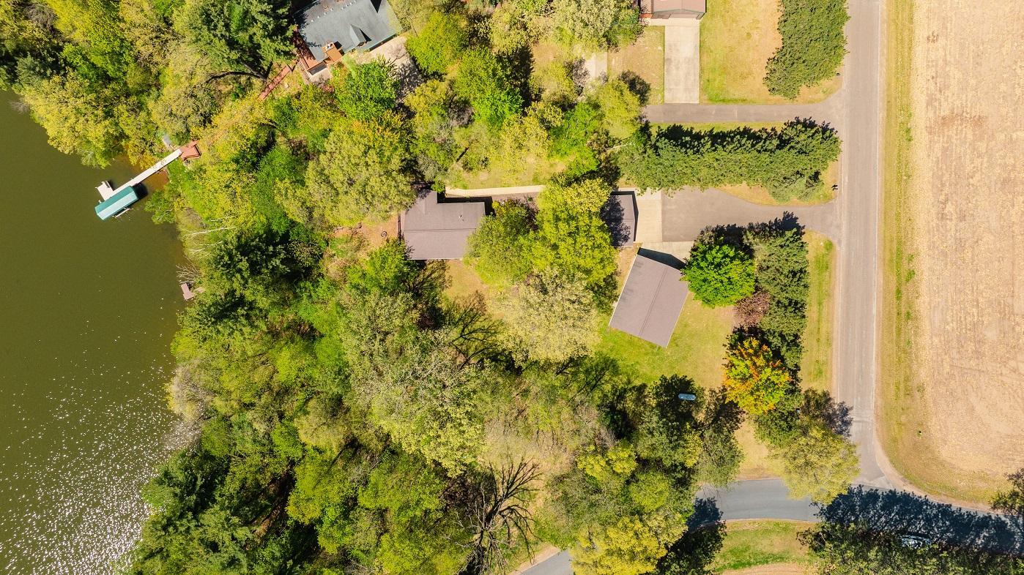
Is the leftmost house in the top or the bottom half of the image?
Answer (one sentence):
It is in the top half that the leftmost house appears.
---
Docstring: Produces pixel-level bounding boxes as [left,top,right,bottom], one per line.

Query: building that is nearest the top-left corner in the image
[289,0,402,76]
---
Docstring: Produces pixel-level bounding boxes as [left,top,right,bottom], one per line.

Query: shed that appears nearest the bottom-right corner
[609,255,690,348]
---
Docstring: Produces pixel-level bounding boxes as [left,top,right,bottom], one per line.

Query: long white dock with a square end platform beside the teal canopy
[94,148,182,201]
